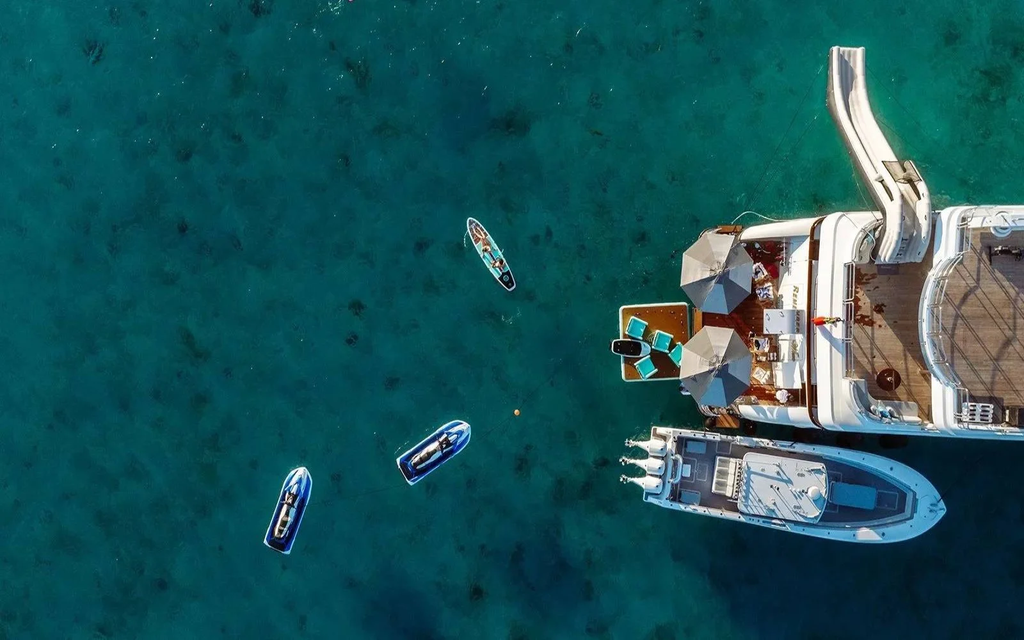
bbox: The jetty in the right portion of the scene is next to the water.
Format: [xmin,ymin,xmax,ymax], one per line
[618,302,691,383]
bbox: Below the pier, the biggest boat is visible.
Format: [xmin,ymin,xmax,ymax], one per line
[614,425,947,543]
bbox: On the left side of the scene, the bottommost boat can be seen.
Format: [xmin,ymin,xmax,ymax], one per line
[262,468,310,554]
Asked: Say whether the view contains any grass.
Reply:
No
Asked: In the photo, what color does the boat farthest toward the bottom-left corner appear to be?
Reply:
blue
